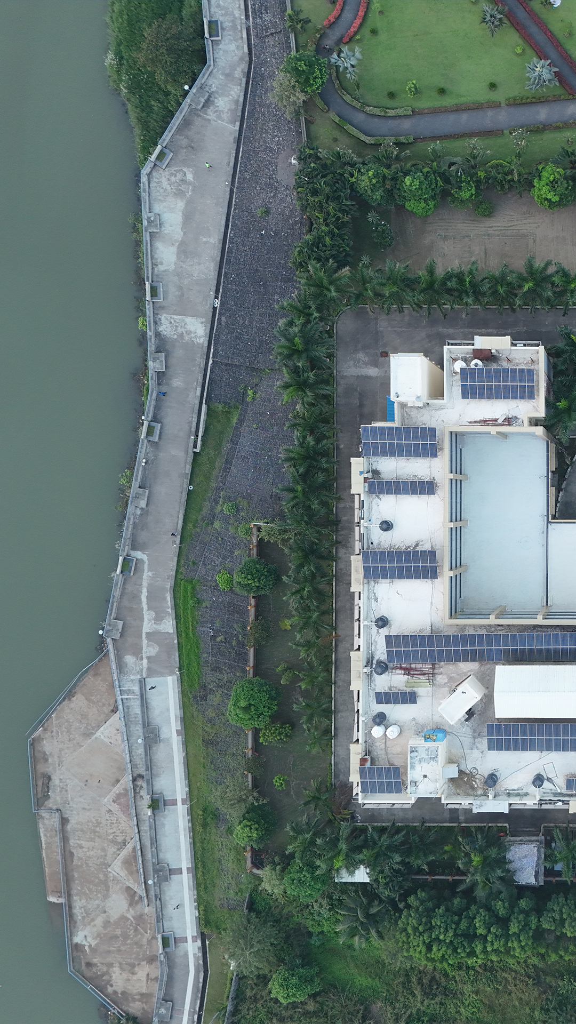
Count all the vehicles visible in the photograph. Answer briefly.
0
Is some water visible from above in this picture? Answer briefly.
Yes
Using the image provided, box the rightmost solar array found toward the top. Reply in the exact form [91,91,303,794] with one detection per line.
[460,368,534,400]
